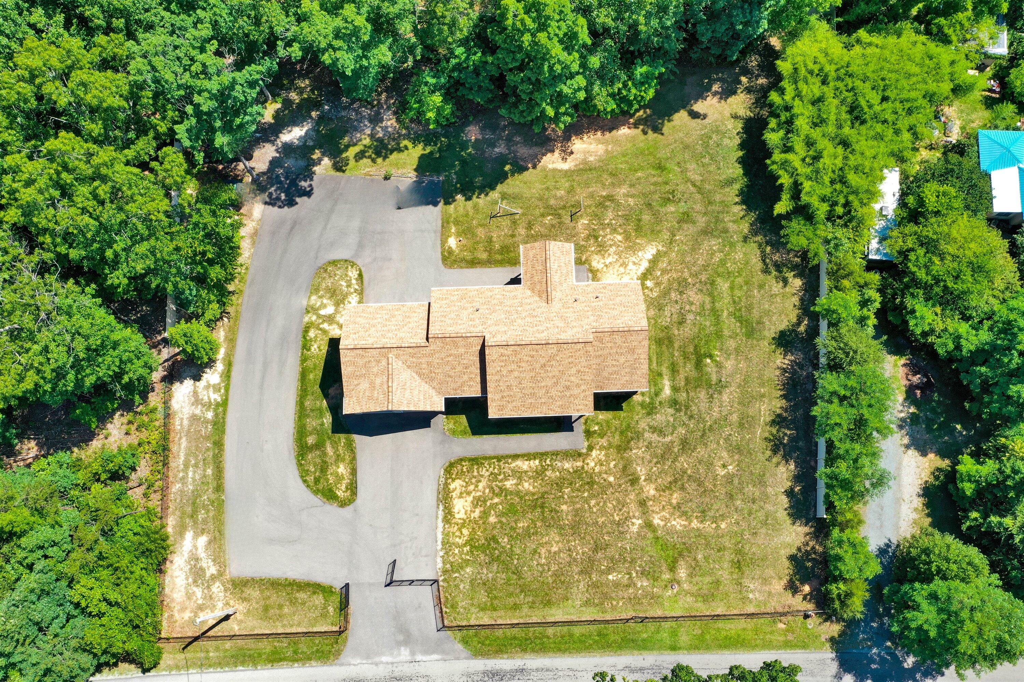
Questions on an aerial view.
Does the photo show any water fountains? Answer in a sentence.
No, no water fountain can be seen from above.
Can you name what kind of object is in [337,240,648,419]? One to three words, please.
house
